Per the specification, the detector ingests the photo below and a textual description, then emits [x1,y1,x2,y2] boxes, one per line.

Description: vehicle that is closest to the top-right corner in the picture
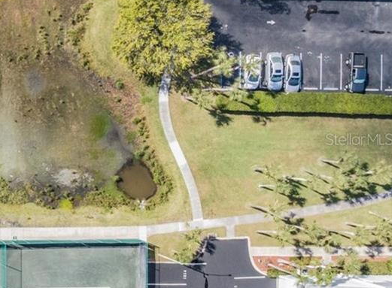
[347,52,368,93]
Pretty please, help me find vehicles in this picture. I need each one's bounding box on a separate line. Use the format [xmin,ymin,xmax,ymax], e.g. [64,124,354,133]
[242,62,263,91]
[265,53,285,89]
[347,52,368,93]
[283,54,304,92]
